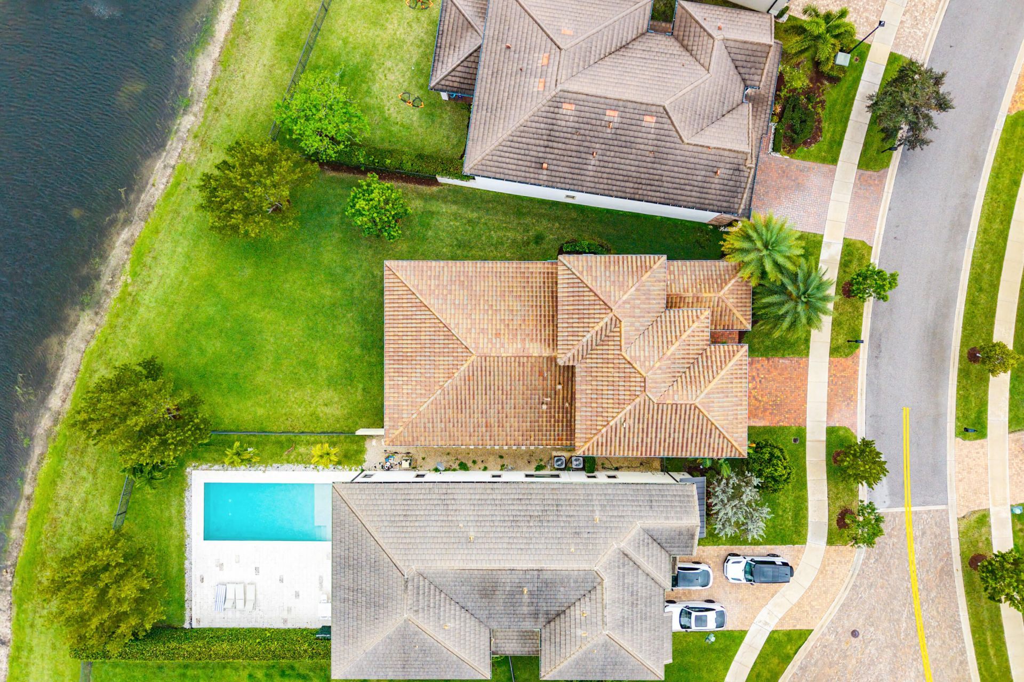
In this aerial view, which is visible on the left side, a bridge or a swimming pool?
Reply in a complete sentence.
The one visible on the left side is a swimming pool.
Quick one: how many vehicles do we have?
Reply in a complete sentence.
In total, there are 3 vehicles in the scene.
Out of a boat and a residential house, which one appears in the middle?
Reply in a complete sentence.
Looking in the middle, you will find a residential house.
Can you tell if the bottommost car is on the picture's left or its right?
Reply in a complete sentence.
The bottommost car is on the right side of the image.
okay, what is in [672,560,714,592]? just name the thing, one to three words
car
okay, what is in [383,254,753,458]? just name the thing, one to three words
house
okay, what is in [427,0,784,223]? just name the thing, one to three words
house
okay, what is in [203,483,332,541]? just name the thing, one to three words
swimming pool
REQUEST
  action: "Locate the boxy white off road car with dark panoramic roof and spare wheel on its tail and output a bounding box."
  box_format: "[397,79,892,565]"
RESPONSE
[723,551,796,587]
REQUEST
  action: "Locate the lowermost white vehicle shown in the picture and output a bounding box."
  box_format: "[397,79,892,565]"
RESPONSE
[666,599,728,635]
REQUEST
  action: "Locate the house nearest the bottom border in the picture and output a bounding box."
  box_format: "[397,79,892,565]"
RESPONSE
[330,464,707,682]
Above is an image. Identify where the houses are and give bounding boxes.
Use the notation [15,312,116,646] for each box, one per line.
[383,254,753,458]
[330,464,707,682]
[427,0,784,223]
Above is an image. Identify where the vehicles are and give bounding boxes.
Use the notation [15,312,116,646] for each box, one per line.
[666,599,728,635]
[672,560,714,592]
[723,551,796,587]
